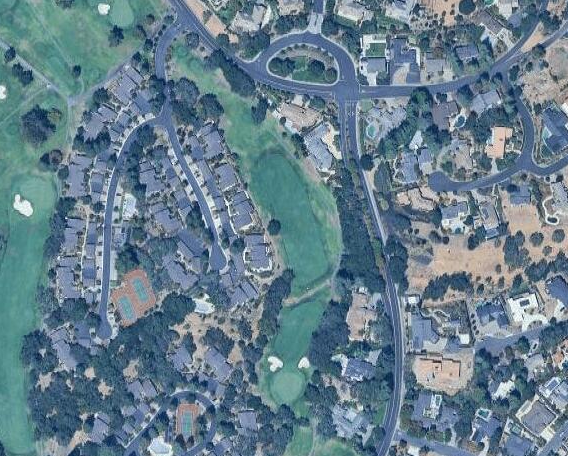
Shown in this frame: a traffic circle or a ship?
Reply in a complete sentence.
This aerial view contains a traffic circle.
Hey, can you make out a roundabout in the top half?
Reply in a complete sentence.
Yes, a roundabout appears in the top half.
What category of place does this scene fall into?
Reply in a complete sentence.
This looks like a residential area.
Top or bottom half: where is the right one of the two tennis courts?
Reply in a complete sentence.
You can find the right one of the two tennis courts in the bottom half.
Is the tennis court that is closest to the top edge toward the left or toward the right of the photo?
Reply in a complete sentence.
The tennis court that is closest to the top edge sits on the left side.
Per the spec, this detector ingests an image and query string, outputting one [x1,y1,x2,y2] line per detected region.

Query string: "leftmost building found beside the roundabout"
[230,1,267,34]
